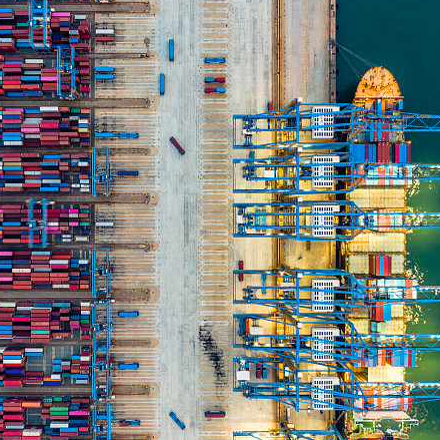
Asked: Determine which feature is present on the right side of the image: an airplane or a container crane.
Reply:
container crane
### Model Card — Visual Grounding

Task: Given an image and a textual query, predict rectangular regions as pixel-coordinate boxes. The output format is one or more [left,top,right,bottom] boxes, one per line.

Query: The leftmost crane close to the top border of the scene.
[23,0,55,54]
